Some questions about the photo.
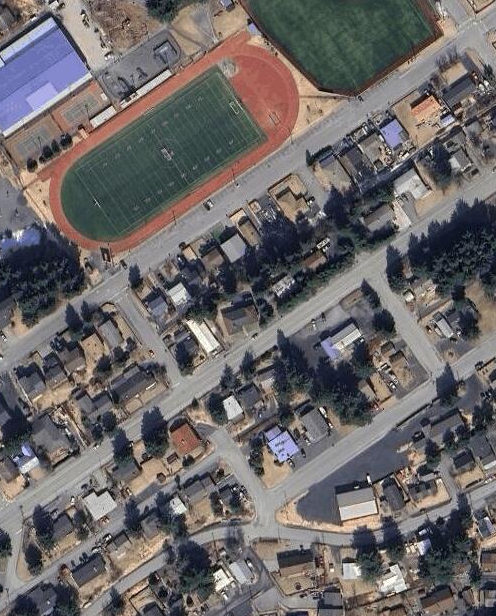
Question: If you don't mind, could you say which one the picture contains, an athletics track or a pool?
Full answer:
It is an athletics track that can be seen here.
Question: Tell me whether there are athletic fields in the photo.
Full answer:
Yes, the image includes an athletic field.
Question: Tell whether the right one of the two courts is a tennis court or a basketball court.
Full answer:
It looks like the right one of the two courts is a basketball court.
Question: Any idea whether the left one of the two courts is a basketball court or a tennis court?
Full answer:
I'd identify the left one of the two courts as a basketball court.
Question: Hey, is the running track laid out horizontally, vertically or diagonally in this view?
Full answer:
What the image shows is the running track lying diagonally.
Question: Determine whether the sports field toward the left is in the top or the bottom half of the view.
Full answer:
It is in the top half that the sports field toward the left appears.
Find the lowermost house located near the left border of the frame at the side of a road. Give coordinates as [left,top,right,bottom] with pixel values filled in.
[21,583,60,616]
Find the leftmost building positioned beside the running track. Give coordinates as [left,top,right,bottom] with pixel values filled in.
[0,20,92,138]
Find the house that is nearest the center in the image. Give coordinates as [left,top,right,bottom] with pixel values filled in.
[216,290,262,337]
